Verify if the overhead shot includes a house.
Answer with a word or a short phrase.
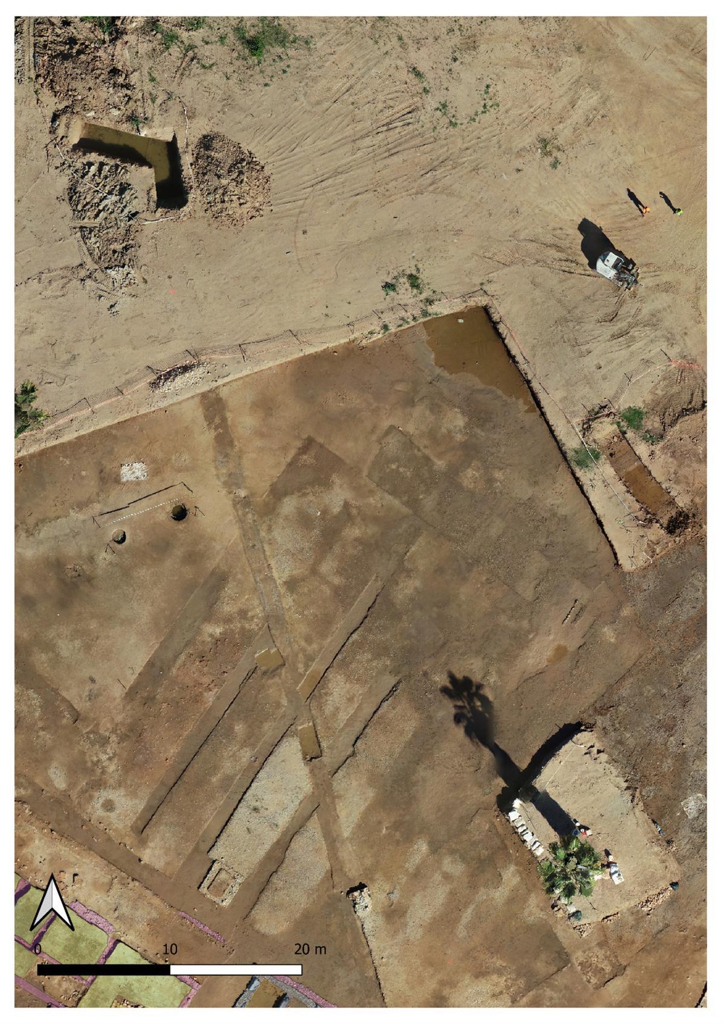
No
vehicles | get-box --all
[594,249,638,289]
